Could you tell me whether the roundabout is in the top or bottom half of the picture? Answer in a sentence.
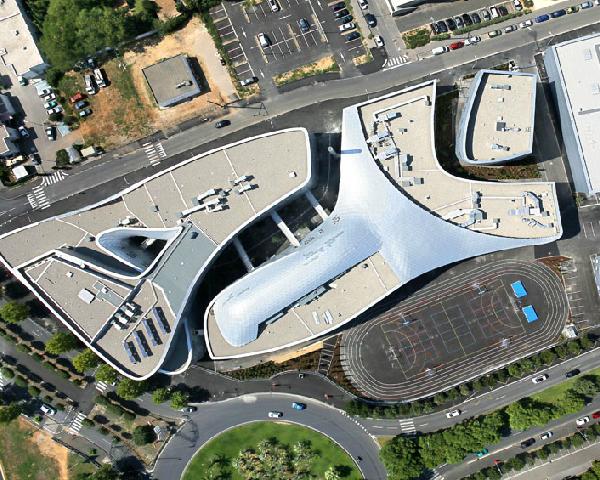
The bottom half of the photo is where the roundabout is.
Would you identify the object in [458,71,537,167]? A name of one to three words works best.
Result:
building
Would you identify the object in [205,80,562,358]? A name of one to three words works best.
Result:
building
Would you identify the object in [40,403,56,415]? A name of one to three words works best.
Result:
vehicle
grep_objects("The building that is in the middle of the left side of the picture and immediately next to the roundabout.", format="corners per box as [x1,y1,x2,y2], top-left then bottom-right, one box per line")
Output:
[0,128,309,379]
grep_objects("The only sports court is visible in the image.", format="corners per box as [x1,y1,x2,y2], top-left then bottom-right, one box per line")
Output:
[342,257,570,401]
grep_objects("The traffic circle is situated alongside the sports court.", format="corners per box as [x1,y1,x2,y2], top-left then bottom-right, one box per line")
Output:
[151,394,392,480]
